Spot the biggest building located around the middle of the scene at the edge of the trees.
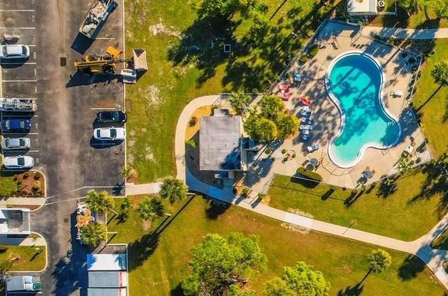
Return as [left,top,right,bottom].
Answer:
[198,107,251,178]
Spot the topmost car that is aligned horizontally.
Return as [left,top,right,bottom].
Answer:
[0,44,29,59]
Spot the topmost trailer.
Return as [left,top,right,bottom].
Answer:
[78,0,118,39]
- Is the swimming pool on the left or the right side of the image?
right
